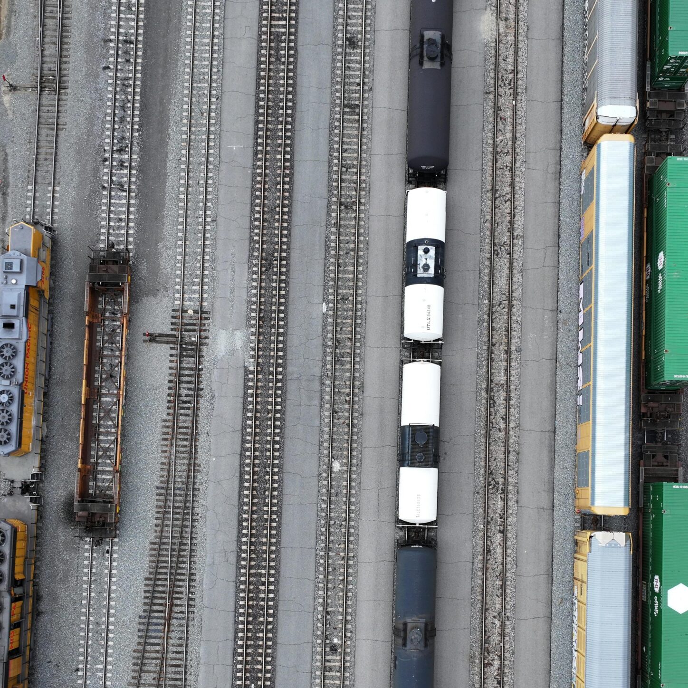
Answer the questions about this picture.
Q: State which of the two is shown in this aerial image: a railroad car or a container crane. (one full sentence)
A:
The one in the frame is a railroad car.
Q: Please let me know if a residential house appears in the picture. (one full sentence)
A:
No, no residential house is visible in the view.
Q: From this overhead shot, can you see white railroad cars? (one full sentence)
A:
Yes, there's a white railroad car down there.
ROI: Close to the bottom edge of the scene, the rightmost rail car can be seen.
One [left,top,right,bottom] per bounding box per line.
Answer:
[392,530,437,688]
